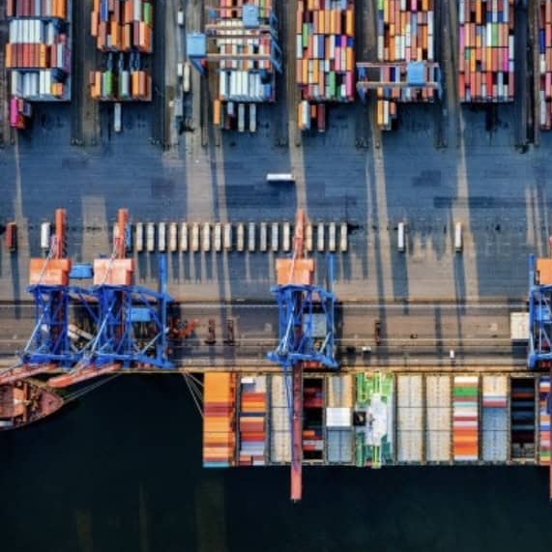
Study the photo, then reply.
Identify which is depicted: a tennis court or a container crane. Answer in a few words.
container crane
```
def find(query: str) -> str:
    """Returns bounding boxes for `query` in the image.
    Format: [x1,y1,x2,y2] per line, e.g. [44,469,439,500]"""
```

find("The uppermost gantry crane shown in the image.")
[206,9,285,40]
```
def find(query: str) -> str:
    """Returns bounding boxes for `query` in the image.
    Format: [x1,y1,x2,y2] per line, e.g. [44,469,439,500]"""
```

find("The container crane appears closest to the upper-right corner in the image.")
[357,63,442,96]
